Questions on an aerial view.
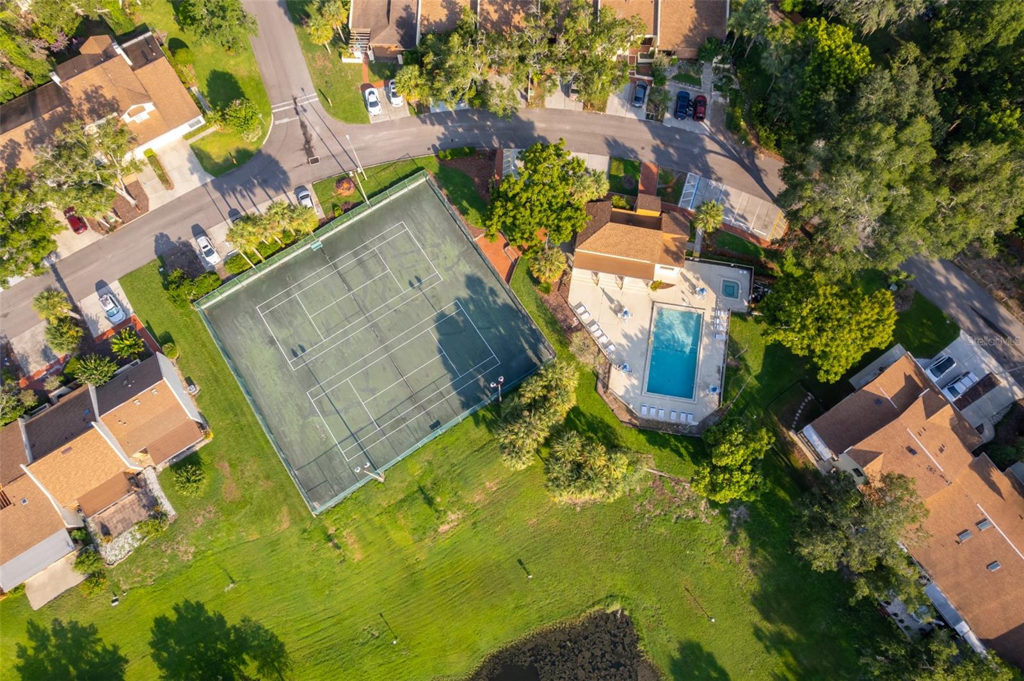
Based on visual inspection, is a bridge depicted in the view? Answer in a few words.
No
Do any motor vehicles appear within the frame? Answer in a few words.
Yes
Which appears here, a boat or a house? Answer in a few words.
house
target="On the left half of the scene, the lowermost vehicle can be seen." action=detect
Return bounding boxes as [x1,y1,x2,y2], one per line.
[95,291,124,323]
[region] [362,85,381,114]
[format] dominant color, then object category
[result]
white car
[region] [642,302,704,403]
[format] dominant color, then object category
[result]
blue swimming pool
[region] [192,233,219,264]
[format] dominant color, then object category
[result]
white car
